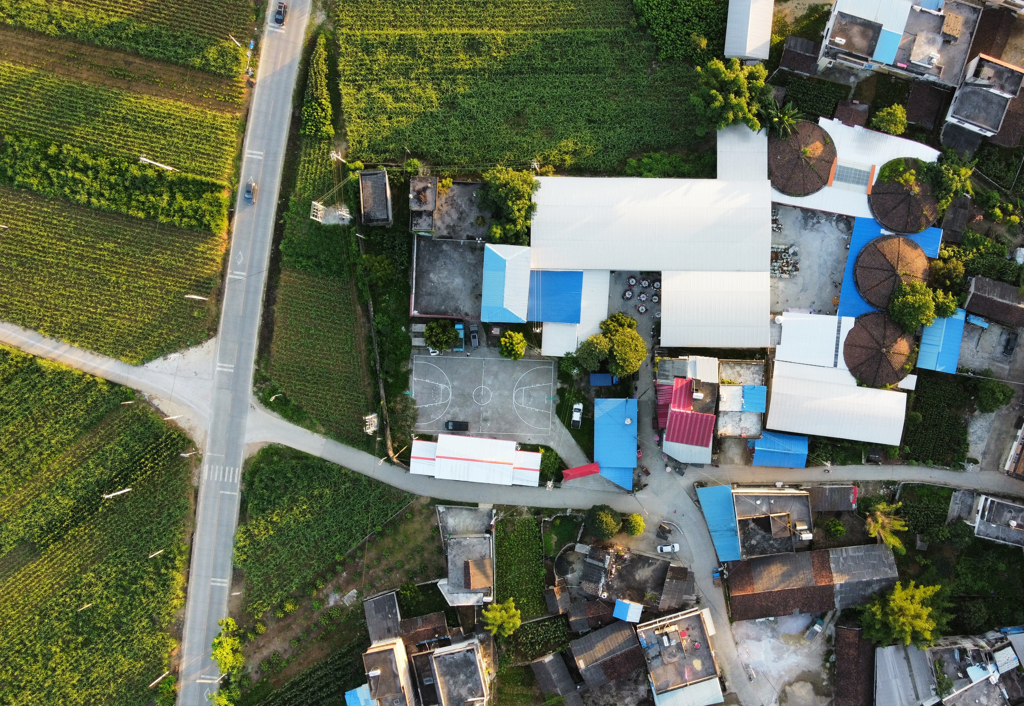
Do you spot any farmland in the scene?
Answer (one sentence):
Yes, there is farmland in the image.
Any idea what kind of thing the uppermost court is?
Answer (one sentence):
I'd identify the uppermost court as a basketball court.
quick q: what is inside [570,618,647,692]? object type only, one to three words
barn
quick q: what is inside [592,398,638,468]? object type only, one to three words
shed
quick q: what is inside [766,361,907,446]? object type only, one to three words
building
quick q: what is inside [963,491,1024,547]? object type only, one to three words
house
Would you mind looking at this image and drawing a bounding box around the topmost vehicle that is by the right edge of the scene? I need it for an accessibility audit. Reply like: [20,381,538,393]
[1005,330,1022,357]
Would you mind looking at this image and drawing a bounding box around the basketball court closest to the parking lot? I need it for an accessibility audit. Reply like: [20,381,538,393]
[412,352,559,439]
